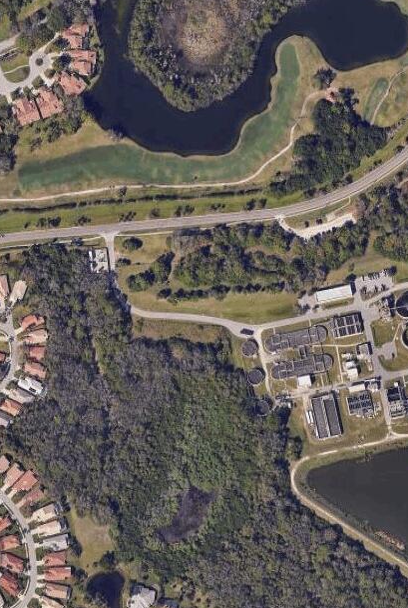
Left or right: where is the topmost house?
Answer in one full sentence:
The topmost house is on the left side of the image.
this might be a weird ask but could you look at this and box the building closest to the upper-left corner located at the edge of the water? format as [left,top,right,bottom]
[62,21,91,51]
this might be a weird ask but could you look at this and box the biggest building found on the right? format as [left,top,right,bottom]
[316,285,354,303]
